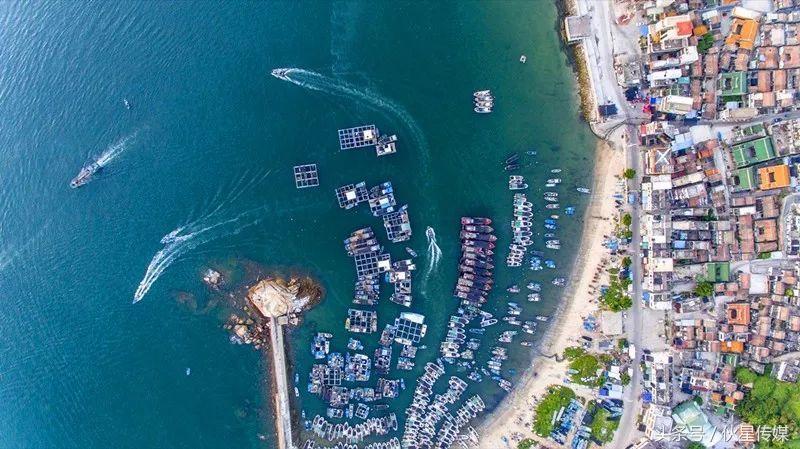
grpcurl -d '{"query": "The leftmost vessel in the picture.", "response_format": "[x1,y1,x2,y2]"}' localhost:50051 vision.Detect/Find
[69,163,98,187]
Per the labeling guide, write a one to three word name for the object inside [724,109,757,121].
house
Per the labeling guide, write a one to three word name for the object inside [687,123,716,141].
house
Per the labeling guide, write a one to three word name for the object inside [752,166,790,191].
building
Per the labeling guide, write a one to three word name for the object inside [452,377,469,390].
boat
